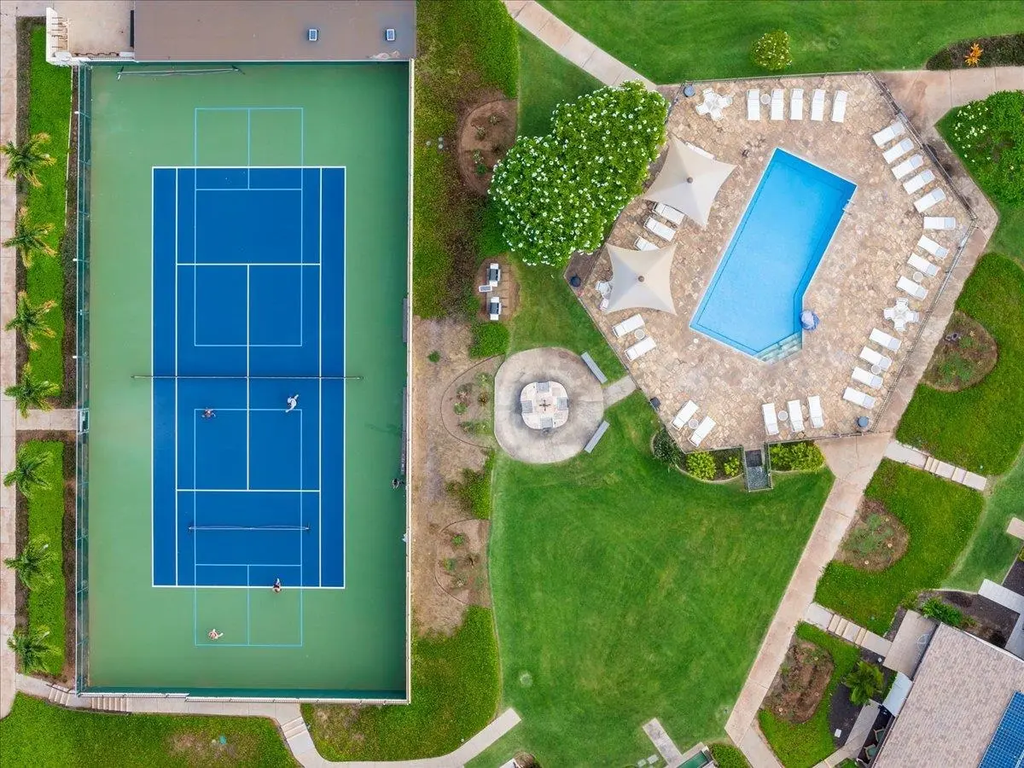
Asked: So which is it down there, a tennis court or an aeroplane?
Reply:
tennis court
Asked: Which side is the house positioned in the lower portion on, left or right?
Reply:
right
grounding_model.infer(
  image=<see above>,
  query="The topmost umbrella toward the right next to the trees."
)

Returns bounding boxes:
[643,133,737,228]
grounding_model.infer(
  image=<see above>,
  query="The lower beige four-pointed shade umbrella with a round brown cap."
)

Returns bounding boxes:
[606,244,677,315]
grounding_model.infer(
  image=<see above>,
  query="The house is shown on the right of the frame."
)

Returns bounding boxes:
[869,619,1024,768]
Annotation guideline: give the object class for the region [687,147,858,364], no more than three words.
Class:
swimming pool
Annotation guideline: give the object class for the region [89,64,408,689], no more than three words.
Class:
tennis court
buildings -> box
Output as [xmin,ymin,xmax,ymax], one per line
[130,0,417,62]
[869,619,1024,768]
